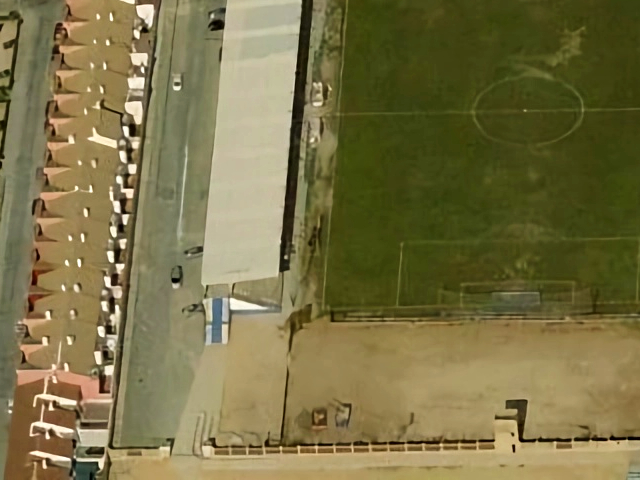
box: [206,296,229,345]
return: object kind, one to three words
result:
building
